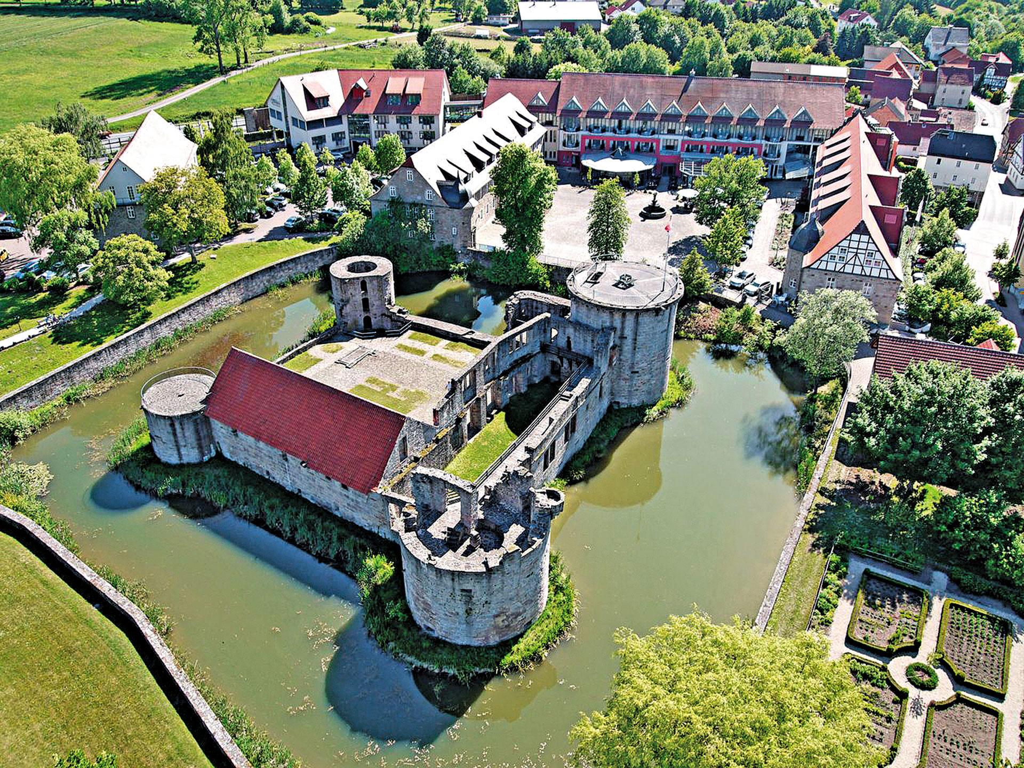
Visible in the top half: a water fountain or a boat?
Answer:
water fountain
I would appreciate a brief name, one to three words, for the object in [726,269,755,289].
car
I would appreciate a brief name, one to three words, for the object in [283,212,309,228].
car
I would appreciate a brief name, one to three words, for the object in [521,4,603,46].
building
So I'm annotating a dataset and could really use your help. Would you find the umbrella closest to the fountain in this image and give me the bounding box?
[671,189,701,201]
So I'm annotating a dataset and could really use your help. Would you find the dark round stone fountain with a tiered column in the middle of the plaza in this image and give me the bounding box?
[636,191,670,223]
